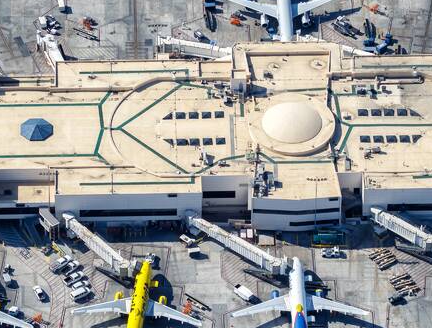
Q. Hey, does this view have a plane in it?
Yes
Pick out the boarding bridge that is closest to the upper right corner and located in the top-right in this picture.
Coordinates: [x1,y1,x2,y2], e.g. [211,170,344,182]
[290,32,372,56]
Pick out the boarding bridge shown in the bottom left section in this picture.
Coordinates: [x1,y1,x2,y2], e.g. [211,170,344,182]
[58,209,141,283]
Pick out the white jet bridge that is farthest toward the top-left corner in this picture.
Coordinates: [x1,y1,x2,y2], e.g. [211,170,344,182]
[31,31,68,73]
